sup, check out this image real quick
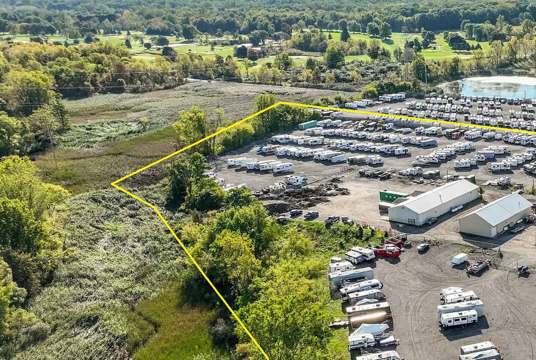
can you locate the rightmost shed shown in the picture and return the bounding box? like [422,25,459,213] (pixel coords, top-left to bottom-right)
[457,196,533,237]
